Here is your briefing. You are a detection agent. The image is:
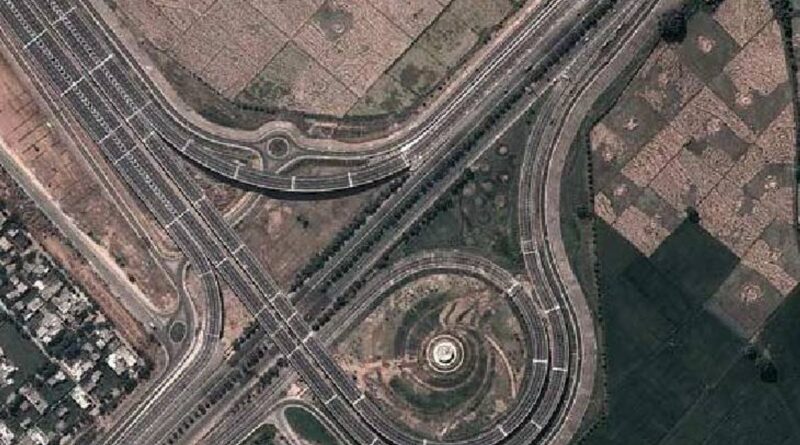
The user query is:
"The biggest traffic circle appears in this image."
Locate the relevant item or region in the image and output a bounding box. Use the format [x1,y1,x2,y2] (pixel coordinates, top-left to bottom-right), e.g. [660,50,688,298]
[262,132,294,162]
